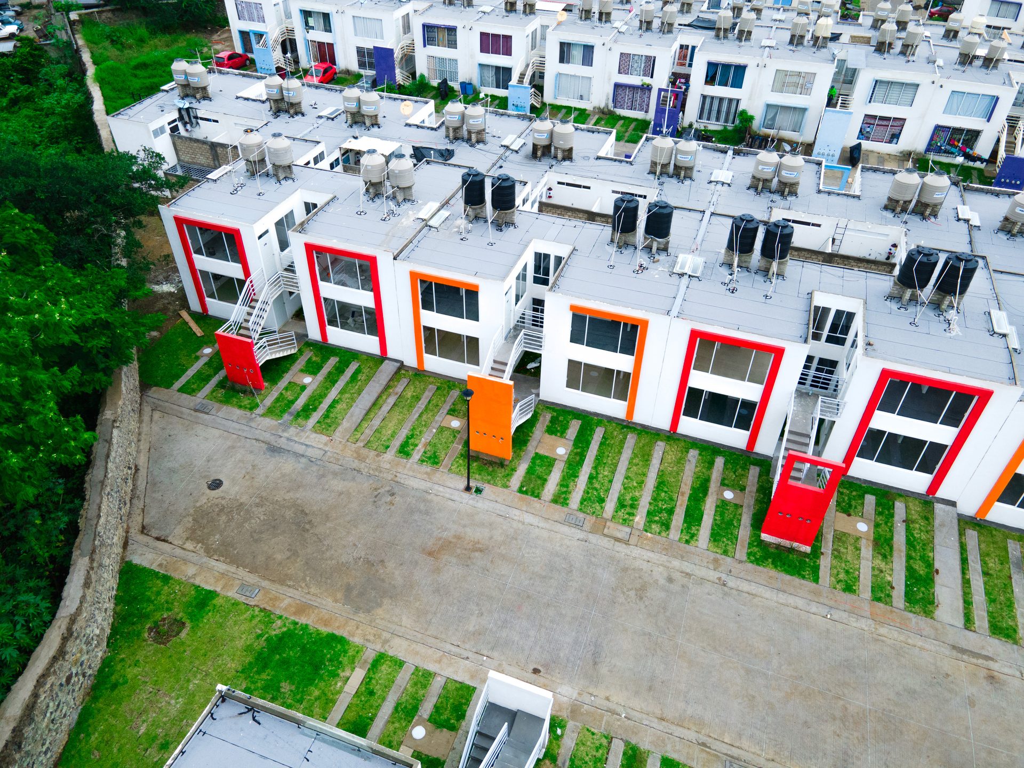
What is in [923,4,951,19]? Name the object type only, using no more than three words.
car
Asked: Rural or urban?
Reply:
urban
